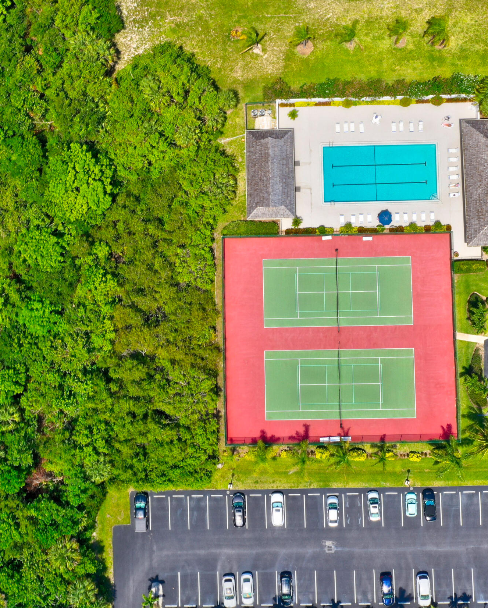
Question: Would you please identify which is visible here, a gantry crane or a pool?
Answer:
pool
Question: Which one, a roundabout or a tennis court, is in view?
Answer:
tennis court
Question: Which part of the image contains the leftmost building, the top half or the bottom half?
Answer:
top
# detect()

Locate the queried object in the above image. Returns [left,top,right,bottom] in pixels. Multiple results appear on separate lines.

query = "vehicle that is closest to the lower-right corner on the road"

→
[416,571,431,606]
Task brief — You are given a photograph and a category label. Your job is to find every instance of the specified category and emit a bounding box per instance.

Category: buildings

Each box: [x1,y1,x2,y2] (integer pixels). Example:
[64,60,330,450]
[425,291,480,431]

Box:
[245,128,295,220]
[461,119,488,246]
